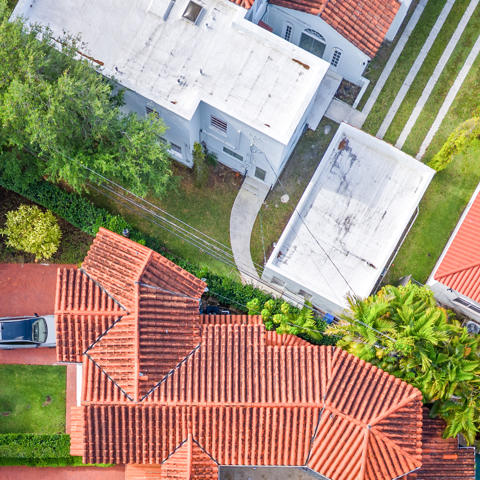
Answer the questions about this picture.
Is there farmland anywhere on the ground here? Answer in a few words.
No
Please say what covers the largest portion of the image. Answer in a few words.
buildings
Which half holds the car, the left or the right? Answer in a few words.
left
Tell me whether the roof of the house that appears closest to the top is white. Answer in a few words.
Yes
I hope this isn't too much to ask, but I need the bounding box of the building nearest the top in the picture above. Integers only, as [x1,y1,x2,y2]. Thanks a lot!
[9,0,413,206]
